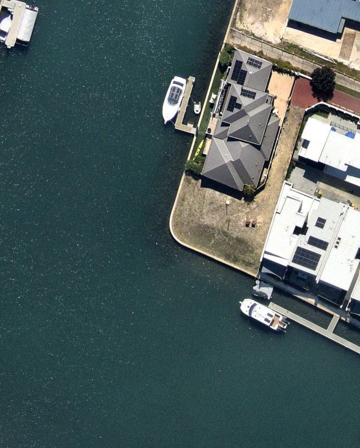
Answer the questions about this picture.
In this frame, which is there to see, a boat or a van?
boat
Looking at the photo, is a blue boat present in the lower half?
No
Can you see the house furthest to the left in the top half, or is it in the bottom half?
top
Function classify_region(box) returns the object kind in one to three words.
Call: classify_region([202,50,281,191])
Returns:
house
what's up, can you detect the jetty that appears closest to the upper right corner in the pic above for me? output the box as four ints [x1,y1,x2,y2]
[175,76,198,135]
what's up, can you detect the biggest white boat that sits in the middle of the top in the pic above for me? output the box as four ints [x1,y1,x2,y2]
[165,74,189,125]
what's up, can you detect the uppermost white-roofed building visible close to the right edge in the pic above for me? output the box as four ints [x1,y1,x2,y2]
[298,117,360,187]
